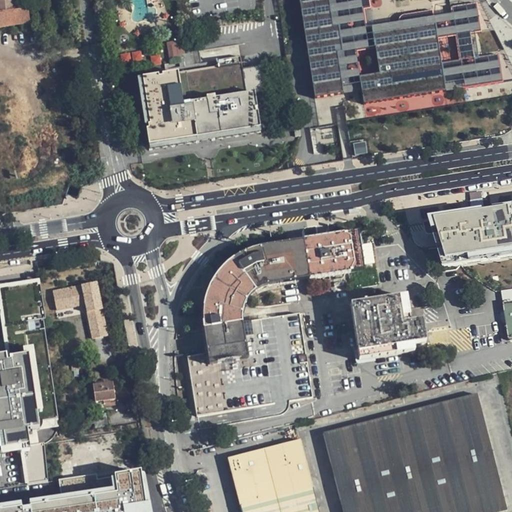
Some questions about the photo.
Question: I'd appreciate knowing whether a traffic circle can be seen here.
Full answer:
Yes, there's a traffic circle down there.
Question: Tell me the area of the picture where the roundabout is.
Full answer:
The roundabout is in the left part of the image.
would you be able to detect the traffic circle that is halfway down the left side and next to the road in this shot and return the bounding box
[98,190,164,253]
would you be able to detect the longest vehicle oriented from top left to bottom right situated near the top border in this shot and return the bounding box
[494,2,508,18]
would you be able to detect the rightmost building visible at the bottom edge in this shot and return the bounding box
[323,394,508,512]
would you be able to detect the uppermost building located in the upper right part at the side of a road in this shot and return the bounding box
[298,0,512,128]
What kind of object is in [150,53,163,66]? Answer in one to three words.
umbrella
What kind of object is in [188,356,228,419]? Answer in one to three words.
building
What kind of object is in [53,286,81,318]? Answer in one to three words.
house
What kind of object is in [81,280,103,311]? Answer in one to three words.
house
